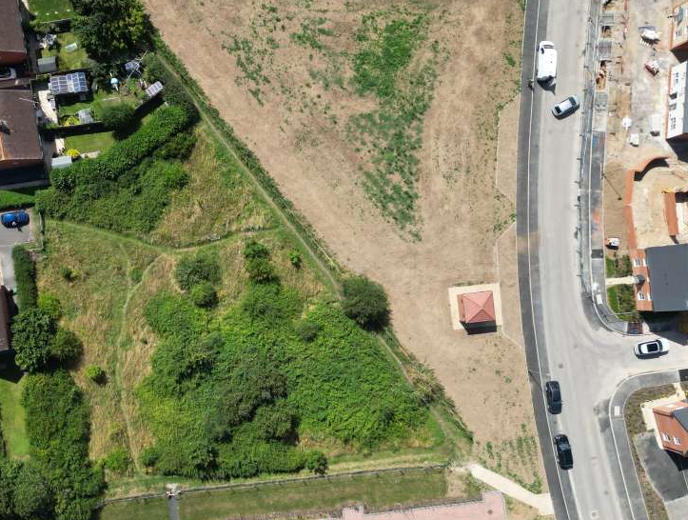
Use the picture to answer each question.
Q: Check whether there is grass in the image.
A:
Yes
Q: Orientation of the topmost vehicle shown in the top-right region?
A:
vertically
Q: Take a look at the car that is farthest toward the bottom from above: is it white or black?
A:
black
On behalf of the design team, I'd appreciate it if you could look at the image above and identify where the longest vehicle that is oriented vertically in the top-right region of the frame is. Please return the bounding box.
[534,42,556,87]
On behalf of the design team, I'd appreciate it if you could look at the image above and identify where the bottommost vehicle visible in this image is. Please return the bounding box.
[552,433,573,469]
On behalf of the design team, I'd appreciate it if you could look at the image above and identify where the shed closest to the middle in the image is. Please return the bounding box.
[459,290,498,324]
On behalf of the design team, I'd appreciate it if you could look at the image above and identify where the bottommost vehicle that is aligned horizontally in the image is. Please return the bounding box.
[632,338,668,357]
